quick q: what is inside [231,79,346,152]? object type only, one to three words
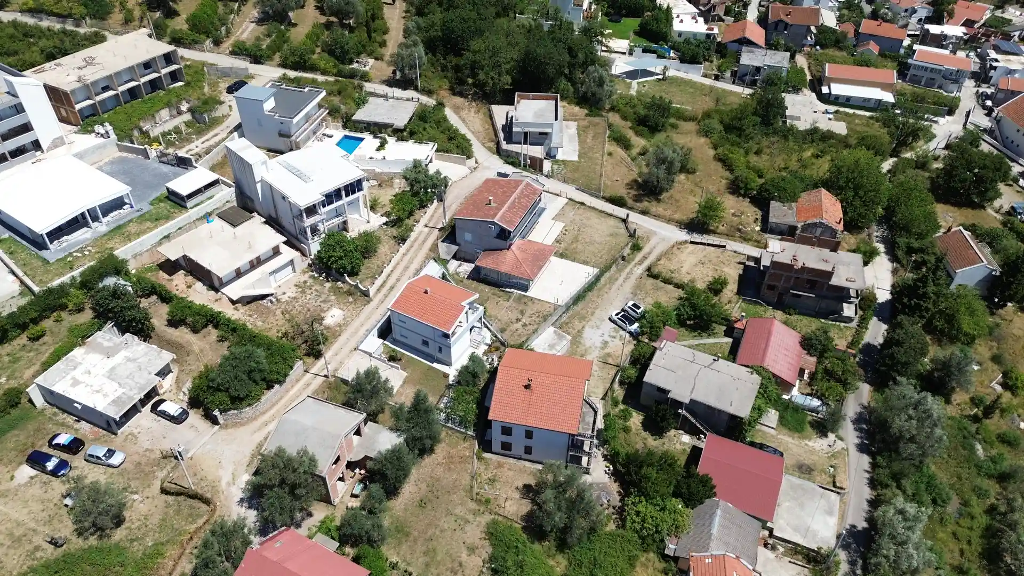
building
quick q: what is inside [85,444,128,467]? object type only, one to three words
car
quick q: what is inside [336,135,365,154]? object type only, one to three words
swimming pool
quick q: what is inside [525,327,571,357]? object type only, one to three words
water tank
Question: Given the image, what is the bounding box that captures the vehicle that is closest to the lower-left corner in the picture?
[27,450,70,476]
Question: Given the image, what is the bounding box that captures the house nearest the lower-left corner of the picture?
[24,331,181,440]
